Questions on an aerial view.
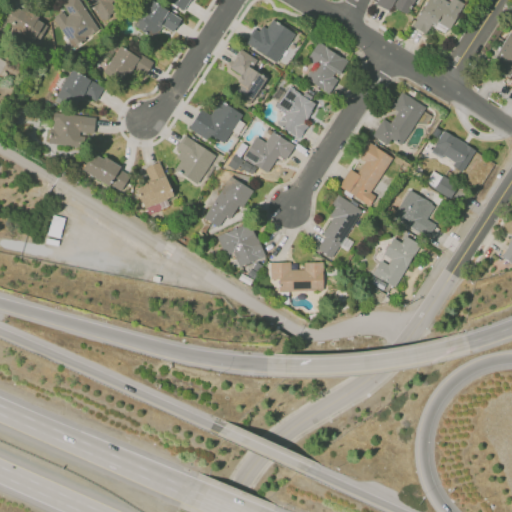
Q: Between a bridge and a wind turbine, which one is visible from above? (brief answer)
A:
bridge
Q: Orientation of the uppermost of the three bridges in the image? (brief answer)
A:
from side to side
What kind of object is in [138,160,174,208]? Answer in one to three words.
house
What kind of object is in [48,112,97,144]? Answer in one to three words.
house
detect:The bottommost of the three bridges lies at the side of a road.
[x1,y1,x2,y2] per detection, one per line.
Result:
[196,476,302,512]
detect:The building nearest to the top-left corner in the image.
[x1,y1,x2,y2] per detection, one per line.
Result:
[5,8,48,38]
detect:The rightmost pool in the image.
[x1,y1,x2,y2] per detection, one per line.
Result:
[408,128,424,146]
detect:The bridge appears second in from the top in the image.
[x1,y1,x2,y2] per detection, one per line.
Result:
[215,422,301,470]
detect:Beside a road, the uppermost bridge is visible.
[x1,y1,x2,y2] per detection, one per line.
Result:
[266,330,474,378]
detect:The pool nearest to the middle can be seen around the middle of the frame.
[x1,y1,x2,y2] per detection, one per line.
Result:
[292,298,314,310]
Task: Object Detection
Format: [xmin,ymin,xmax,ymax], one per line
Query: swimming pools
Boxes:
[292,298,314,310]
[264,104,277,123]
[408,128,424,146]
[246,121,264,142]
[216,138,235,154]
